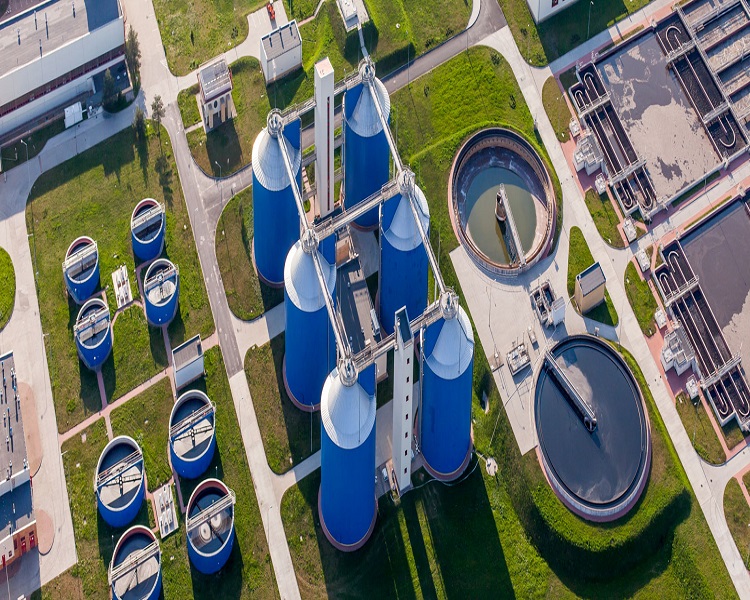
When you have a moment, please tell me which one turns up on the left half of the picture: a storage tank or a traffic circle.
storage tank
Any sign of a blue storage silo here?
Yes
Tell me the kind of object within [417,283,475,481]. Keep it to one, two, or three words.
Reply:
silo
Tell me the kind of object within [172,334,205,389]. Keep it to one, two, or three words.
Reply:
shed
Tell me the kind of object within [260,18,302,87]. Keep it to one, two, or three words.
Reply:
house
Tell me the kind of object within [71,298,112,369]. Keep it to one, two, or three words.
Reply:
storage tank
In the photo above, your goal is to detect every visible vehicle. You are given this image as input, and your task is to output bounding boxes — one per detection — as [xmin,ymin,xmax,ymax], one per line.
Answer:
[267,3,279,29]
